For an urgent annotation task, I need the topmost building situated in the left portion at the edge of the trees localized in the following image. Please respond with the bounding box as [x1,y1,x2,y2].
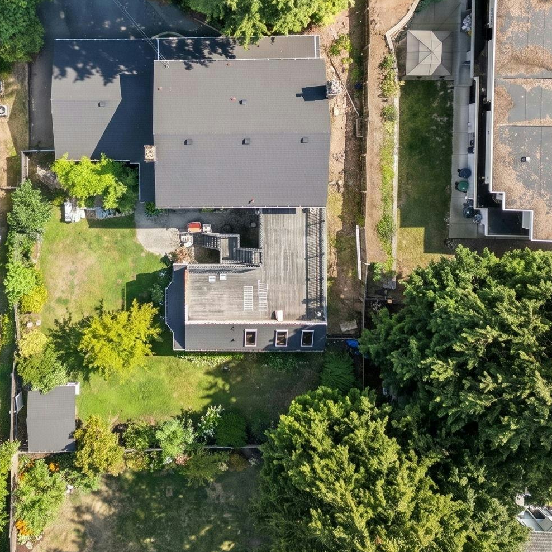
[50,30,343,208]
